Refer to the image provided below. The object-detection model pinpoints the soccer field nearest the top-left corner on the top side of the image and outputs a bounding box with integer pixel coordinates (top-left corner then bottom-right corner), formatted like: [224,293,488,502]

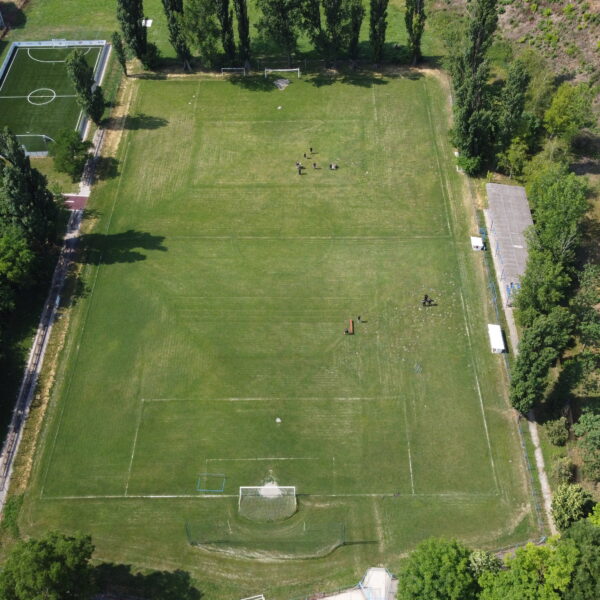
[0,45,107,159]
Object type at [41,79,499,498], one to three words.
soccer field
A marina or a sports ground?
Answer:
sports ground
